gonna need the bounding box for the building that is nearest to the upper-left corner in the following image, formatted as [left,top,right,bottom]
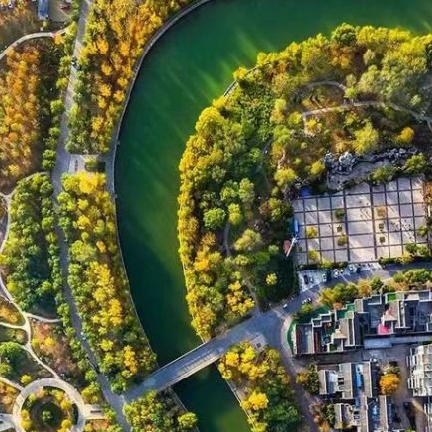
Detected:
[37,0,50,24]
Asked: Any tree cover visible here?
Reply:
Yes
